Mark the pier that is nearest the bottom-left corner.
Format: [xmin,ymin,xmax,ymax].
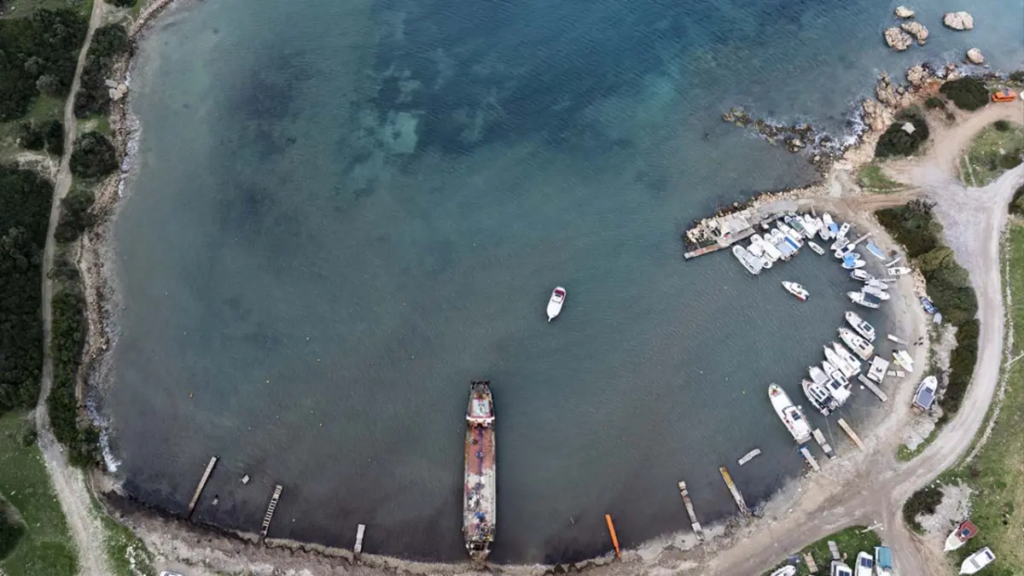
[187,456,219,515]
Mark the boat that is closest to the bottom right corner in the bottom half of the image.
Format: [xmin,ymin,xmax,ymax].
[958,548,997,576]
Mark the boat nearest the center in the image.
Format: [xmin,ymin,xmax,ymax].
[547,285,566,321]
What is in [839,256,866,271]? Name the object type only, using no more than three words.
boat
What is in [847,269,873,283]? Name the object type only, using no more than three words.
boat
